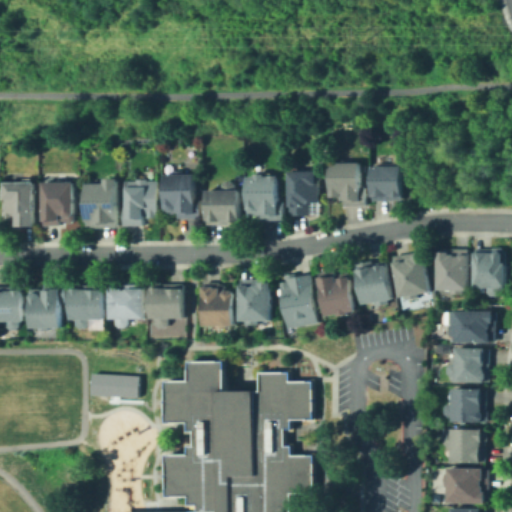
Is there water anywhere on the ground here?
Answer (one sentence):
No, there's no water in this view.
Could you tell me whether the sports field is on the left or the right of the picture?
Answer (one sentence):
The sports field appears in the left half of the scene.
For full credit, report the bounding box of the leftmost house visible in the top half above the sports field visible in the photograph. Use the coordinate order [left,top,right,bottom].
[1,182,36,226]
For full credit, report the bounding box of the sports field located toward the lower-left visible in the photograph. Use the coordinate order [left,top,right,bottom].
[0,354,84,444]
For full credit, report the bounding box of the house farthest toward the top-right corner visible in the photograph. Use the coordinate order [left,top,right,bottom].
[366,166,401,201]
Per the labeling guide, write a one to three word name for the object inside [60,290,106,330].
house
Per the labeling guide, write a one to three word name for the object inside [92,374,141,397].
shed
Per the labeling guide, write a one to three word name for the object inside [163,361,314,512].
building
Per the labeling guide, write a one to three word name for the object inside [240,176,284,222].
house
